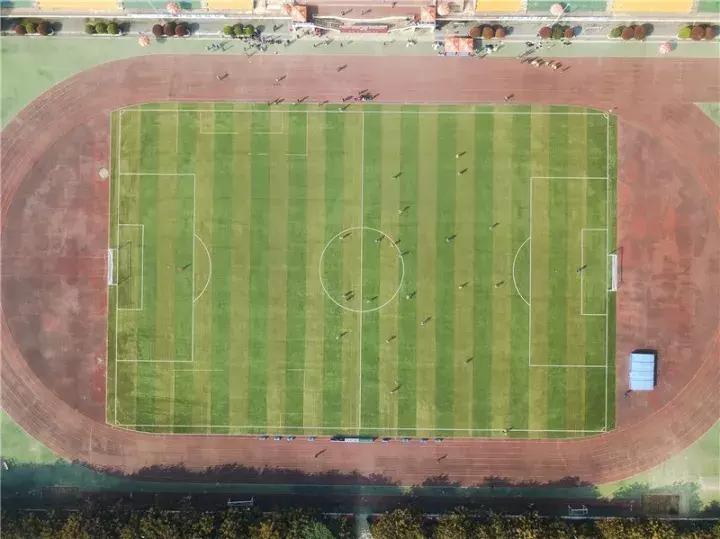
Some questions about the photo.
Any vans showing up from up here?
No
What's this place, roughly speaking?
sports ground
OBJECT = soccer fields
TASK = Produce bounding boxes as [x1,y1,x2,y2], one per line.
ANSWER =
[105,103,619,439]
